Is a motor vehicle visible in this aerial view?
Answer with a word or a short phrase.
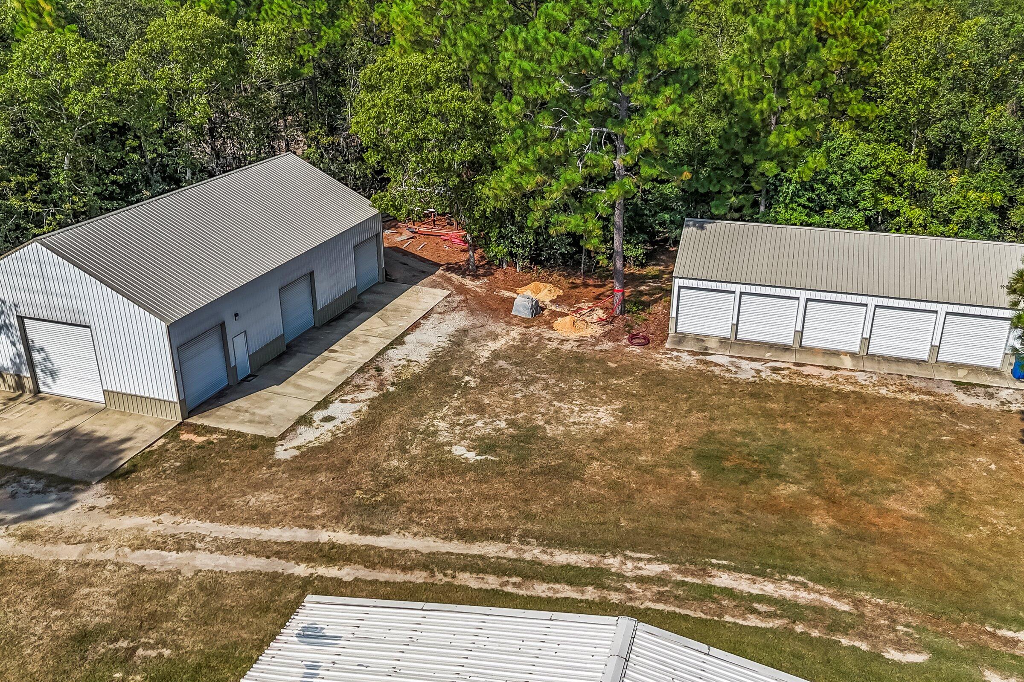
No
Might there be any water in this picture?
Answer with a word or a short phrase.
No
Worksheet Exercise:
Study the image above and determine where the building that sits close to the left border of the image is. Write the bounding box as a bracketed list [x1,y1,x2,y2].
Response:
[0,152,385,421]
